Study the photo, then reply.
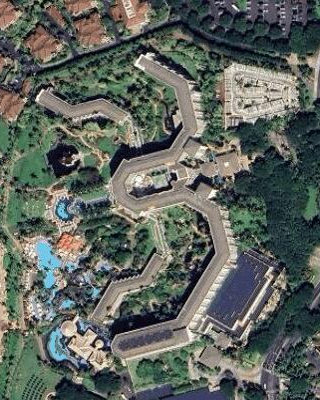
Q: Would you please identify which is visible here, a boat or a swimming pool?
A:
swimming pool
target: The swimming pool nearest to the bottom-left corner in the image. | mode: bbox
[49,328,68,362]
